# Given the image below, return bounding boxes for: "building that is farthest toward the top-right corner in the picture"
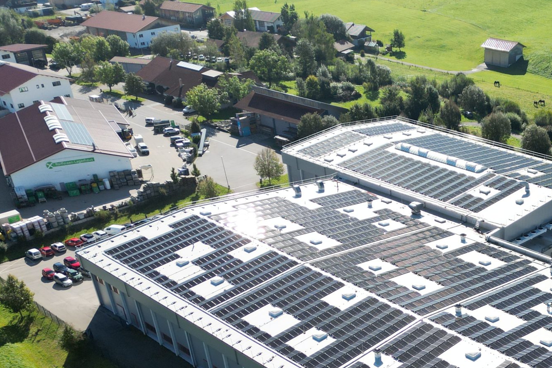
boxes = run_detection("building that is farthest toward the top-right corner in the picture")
[481,38,544,67]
